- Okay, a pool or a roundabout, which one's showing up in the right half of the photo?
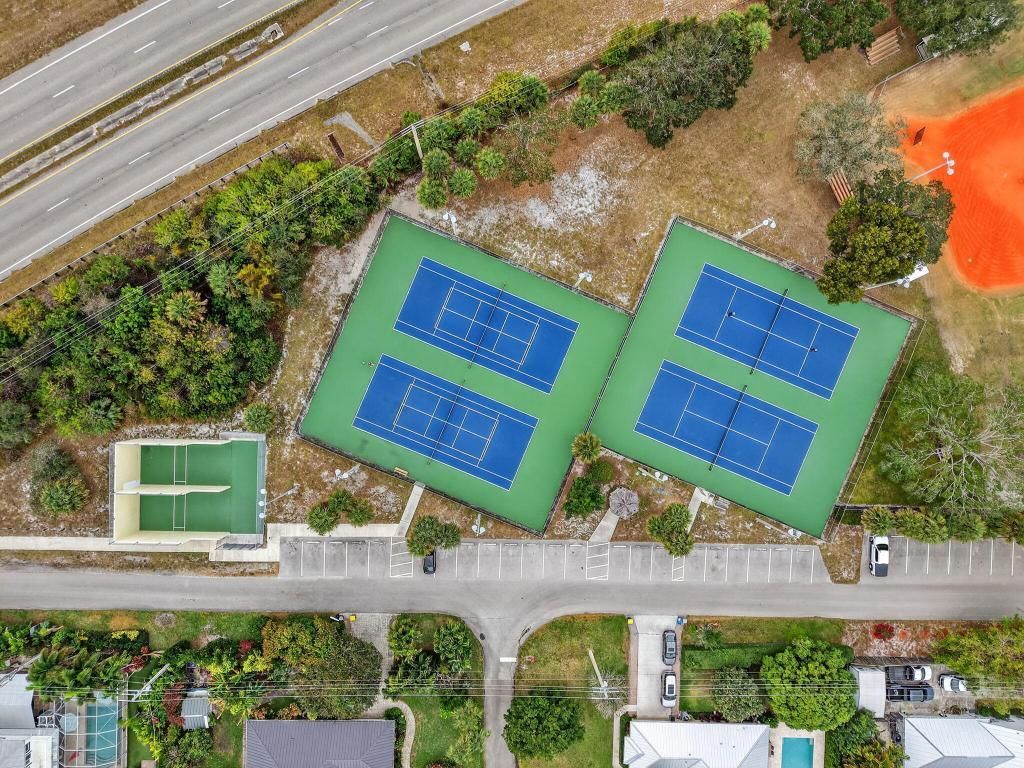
pool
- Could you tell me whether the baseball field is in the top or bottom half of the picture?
top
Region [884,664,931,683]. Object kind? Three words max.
vehicle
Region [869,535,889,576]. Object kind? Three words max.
vehicle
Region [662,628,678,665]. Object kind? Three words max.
car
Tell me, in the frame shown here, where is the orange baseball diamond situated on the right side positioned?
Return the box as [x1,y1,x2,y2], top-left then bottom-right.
[887,67,1024,311]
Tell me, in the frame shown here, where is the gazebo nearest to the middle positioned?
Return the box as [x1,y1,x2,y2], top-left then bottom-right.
[608,486,638,516]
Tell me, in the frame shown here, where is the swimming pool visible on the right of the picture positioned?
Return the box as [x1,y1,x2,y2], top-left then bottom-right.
[770,722,828,768]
